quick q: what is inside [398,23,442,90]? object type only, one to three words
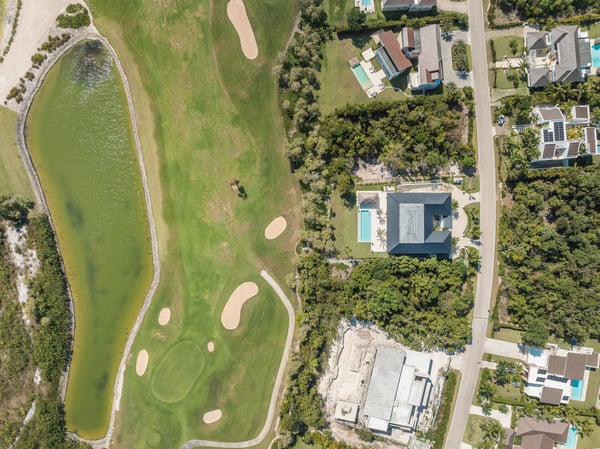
house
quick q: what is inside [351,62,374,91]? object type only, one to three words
swimming pool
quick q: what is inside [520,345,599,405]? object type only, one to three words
house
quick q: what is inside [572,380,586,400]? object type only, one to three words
swimming pool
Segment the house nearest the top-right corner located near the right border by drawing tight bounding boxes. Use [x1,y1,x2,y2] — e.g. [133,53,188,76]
[523,26,589,89]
